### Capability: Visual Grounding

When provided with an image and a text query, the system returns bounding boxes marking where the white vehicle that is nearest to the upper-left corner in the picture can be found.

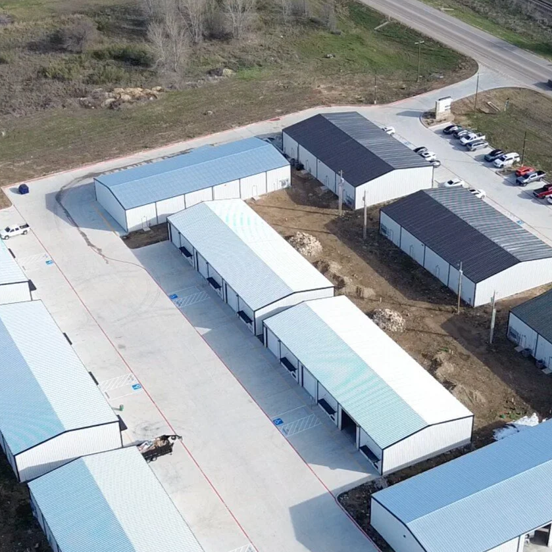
[0,223,31,240]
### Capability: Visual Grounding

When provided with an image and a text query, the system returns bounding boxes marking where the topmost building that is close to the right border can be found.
[379,186,552,307]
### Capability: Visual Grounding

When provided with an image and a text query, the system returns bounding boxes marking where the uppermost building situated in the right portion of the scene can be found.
[281,111,435,208]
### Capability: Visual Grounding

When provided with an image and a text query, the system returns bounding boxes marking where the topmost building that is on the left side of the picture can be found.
[93,136,291,232]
